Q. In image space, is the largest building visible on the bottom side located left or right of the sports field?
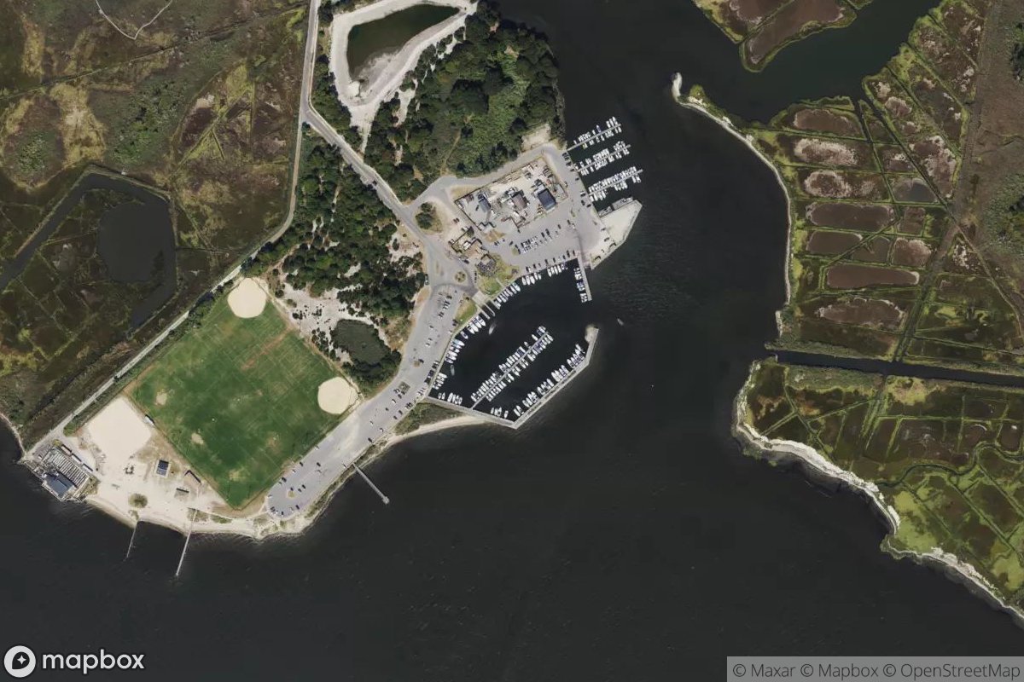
to the left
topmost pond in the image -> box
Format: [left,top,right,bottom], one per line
[347,4,458,77]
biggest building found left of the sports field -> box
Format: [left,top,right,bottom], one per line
[42,469,77,500]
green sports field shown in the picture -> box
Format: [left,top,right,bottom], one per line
[125,278,358,510]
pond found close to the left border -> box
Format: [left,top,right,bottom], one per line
[0,173,177,323]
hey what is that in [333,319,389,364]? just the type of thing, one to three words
pond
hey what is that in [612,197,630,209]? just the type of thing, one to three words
ship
